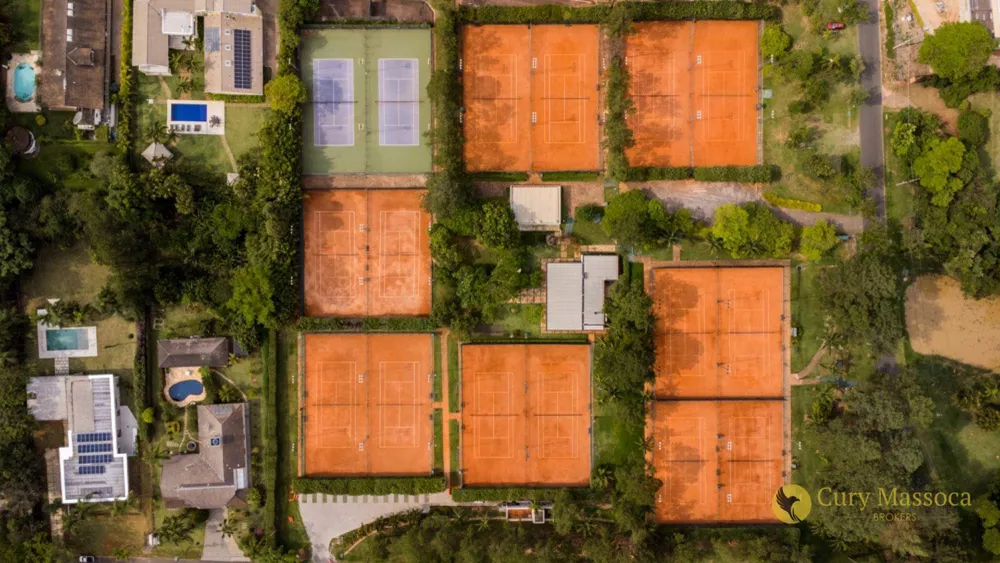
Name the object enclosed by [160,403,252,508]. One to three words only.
house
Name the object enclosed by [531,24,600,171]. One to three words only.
tennis court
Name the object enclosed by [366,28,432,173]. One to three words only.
tennis court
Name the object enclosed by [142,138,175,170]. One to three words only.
gazebo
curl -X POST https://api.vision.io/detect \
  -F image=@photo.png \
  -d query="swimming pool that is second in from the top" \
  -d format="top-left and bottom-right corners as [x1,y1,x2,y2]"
[167,100,225,135]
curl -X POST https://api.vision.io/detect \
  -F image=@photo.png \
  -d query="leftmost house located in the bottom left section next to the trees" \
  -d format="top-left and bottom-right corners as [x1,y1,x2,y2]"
[27,374,140,503]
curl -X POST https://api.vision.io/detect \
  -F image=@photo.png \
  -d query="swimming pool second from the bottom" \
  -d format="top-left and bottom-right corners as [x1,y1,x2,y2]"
[37,318,98,358]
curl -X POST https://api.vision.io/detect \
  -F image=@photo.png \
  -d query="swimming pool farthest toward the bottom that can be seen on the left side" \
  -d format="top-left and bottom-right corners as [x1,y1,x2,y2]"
[163,367,206,407]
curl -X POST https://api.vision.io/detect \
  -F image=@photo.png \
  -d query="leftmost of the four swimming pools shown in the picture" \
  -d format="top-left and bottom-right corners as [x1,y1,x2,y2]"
[7,50,41,112]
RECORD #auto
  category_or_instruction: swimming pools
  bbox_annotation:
[167,100,225,135]
[37,318,98,358]
[163,367,206,407]
[7,50,41,112]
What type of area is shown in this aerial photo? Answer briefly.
sports ground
